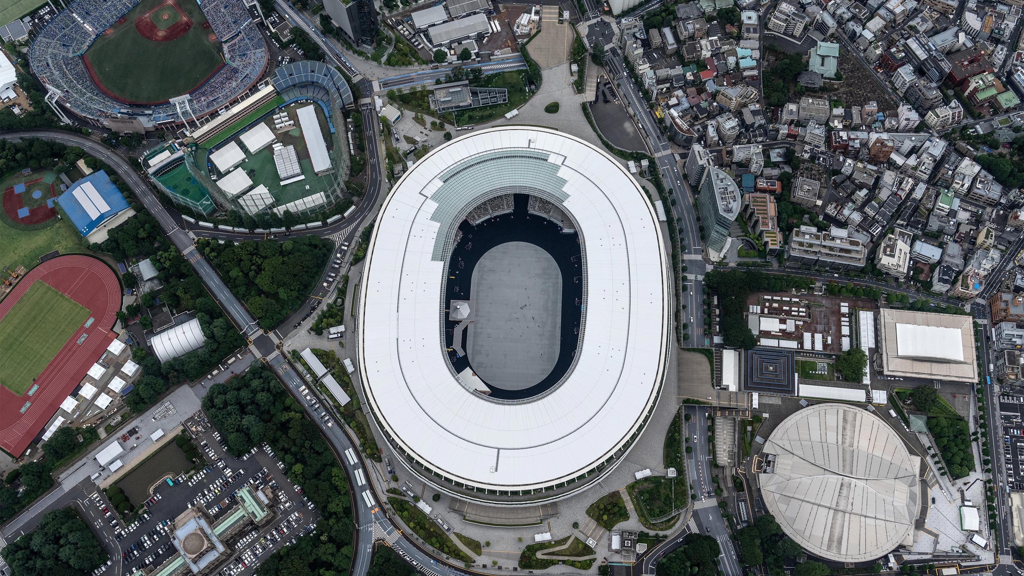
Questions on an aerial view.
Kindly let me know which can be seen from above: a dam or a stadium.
stadium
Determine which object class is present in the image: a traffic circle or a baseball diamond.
baseball diamond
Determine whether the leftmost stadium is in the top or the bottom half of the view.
top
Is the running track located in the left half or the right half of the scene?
left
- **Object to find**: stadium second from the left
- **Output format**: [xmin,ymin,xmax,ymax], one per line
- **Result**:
[192,60,355,214]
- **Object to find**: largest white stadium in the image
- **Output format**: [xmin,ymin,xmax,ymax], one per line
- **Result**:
[353,126,674,511]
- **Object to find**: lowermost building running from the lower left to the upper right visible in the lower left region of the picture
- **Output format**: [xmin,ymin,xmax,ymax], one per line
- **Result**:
[128,485,281,576]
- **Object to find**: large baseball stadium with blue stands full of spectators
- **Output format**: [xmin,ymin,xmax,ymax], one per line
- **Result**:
[31,0,270,131]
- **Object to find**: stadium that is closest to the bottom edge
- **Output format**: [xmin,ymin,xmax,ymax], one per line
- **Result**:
[760,404,921,562]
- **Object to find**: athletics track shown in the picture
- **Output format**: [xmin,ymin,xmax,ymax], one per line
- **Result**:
[0,254,125,458]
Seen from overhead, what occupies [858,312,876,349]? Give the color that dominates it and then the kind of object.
white tent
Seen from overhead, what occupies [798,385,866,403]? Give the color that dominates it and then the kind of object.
white tent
